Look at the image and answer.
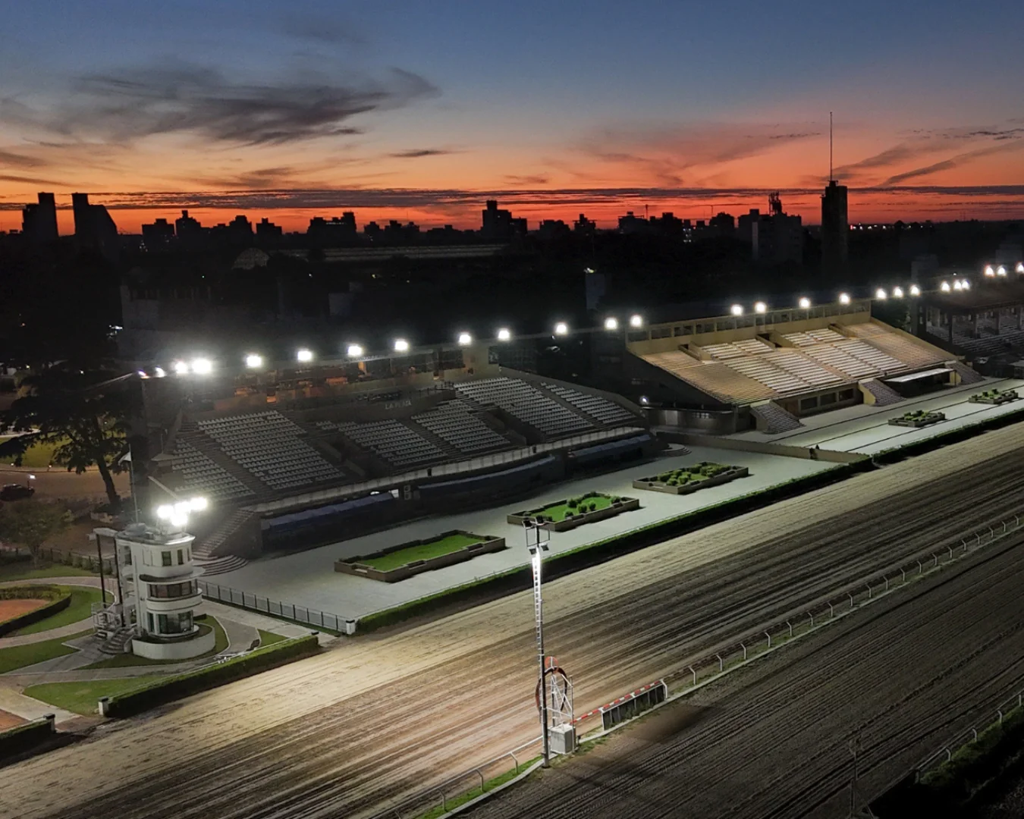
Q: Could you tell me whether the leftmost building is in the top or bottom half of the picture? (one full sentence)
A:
Seen from above, the leftmost building lies in the top half of the view.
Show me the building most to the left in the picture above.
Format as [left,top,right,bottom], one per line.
[18,187,58,266]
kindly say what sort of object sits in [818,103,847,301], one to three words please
building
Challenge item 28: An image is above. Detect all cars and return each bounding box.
[3,484,39,499]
